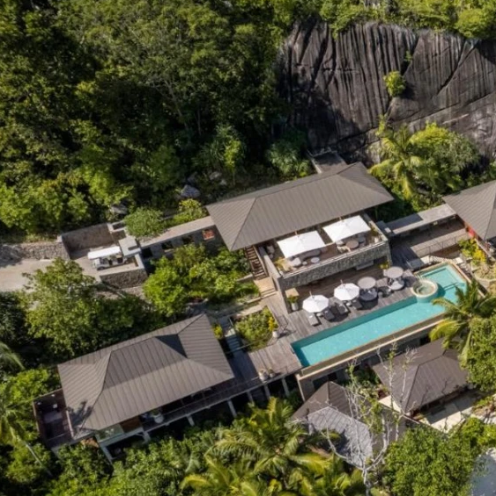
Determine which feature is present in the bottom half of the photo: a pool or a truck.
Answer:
pool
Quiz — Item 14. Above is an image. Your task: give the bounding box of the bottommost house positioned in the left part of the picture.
[59,312,301,465]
